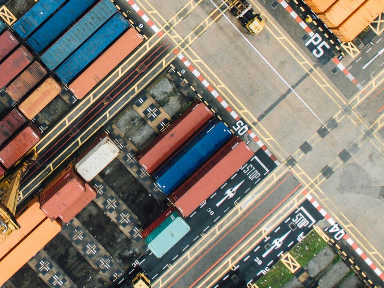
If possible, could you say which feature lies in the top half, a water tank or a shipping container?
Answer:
shipping container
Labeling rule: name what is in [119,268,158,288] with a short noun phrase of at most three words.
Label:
vehicle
